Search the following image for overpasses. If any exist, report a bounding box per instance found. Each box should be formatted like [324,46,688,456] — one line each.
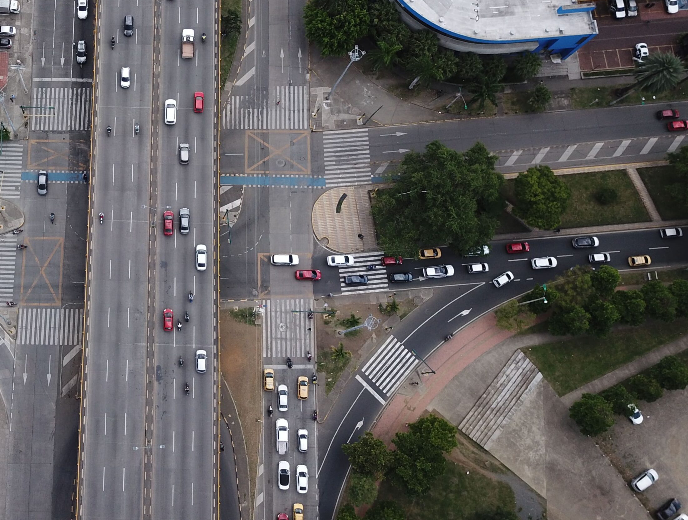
[78,0,219,520]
